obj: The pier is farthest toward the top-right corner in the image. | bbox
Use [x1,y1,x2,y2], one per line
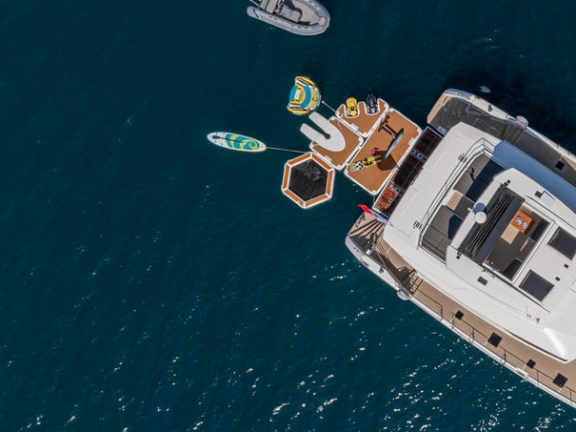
[335,99,390,138]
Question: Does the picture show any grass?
No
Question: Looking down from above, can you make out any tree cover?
No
